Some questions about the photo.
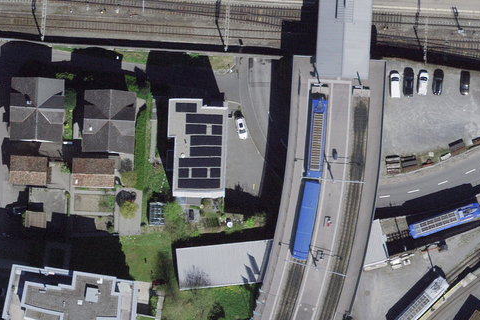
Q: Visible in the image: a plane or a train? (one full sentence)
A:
There is a train in the scene.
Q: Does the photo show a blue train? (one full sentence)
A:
Yes, I can see a blue train in this picture.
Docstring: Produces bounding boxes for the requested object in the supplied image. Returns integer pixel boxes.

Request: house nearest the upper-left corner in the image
[10,77,64,142]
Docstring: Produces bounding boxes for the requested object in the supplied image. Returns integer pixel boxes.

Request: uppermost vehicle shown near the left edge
[7,204,30,216]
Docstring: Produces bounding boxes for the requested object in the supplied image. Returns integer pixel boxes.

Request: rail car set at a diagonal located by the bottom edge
[396,276,448,320]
